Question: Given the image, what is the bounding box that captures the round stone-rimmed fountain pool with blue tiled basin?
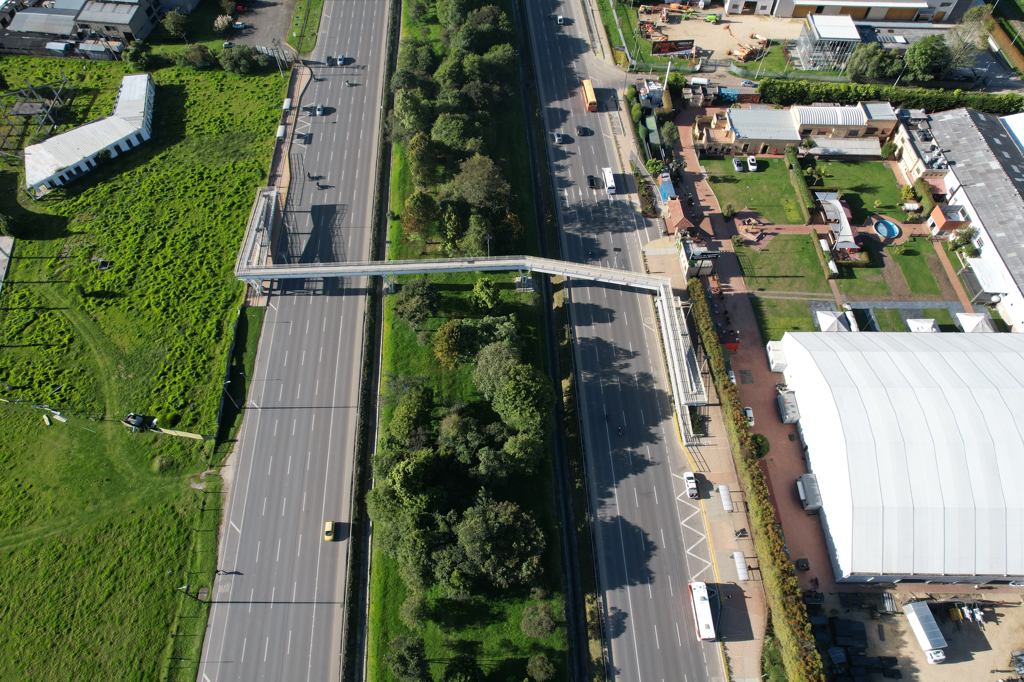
[872,220,900,242]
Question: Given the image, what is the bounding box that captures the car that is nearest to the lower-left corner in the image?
[323,520,336,543]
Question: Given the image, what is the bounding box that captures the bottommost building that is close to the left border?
[23,72,155,199]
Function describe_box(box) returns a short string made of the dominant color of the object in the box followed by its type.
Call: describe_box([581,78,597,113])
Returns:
yellow vehicle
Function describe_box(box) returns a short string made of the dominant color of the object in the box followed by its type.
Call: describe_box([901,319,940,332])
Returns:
white tent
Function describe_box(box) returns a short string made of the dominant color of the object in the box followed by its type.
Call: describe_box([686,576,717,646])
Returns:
white bus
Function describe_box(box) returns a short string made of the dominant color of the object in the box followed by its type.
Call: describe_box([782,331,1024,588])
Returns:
white tent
